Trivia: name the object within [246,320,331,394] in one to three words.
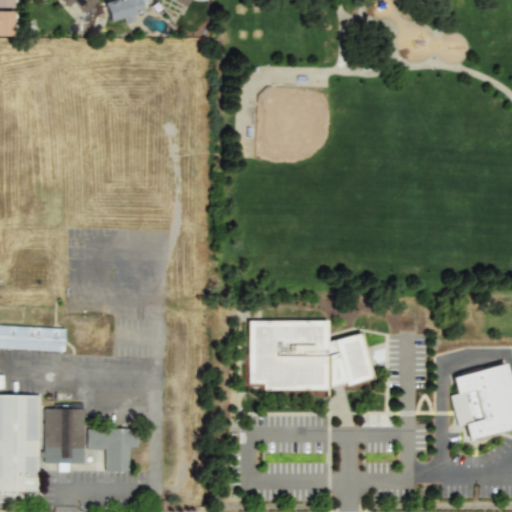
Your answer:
building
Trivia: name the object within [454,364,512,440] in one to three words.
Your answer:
building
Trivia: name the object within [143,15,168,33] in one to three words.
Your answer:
swimming pool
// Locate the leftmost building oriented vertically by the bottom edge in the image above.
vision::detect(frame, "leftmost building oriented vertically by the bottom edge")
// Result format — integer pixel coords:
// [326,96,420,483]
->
[0,395,40,493]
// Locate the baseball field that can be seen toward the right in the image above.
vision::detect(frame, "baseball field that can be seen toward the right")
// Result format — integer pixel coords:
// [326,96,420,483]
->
[238,71,512,288]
